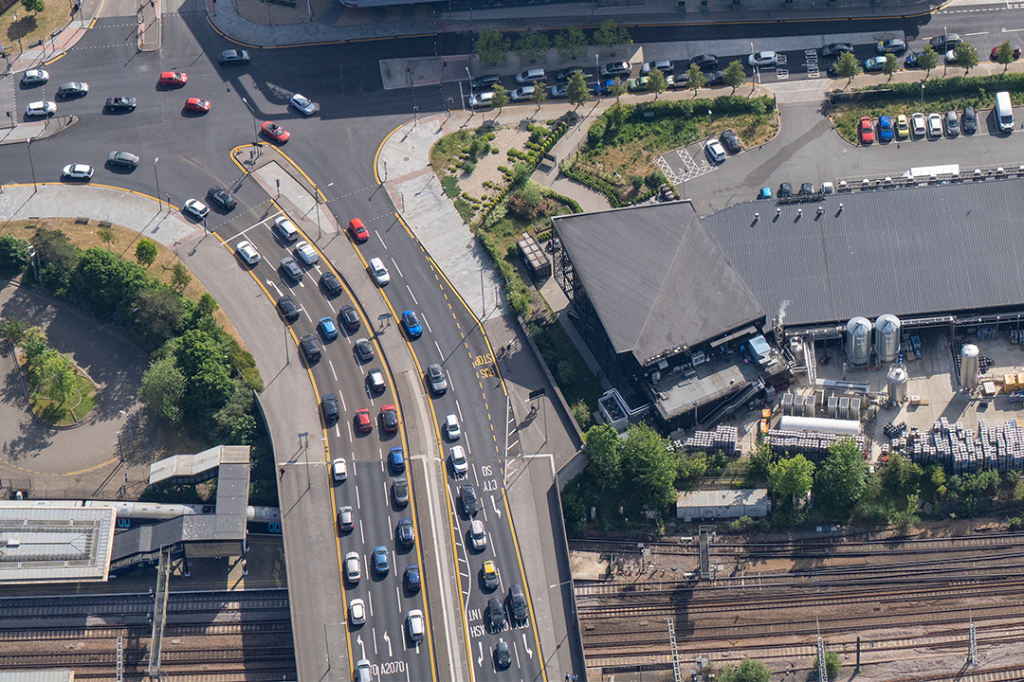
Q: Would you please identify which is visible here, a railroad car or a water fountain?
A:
railroad car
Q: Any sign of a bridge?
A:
Yes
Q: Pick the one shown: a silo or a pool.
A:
silo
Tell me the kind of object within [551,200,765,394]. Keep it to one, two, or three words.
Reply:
building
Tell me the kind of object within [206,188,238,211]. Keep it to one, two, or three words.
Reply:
car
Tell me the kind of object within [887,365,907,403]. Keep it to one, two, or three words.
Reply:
silo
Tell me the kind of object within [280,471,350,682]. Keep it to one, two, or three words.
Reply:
bridge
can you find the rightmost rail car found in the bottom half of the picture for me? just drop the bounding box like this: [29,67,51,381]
[251,513,283,540]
